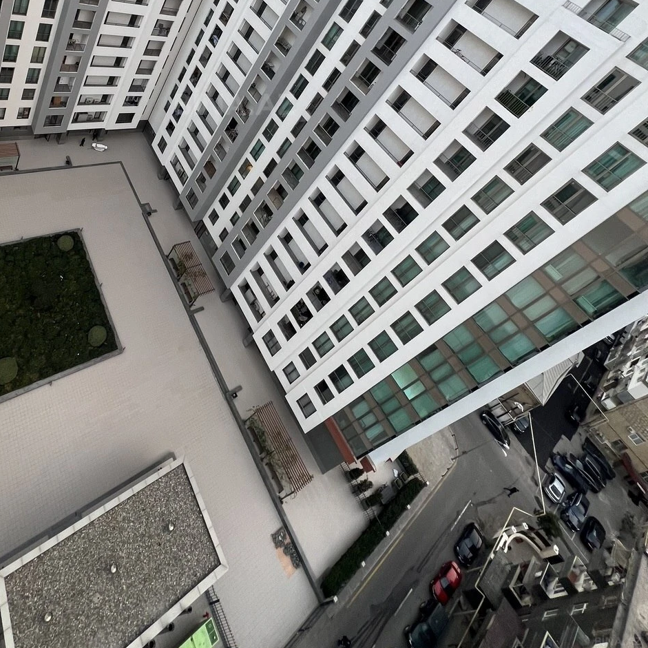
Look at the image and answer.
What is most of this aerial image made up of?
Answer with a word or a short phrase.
buildings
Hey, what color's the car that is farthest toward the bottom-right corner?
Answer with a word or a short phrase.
black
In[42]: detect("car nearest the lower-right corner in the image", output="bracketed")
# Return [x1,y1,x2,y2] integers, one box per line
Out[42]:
[580,520,609,559]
